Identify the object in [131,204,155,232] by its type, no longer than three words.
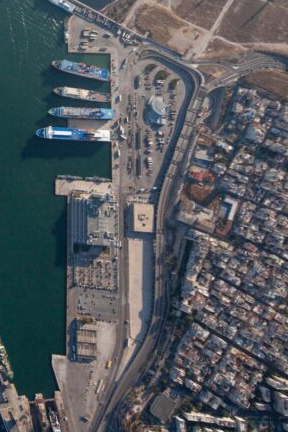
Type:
building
